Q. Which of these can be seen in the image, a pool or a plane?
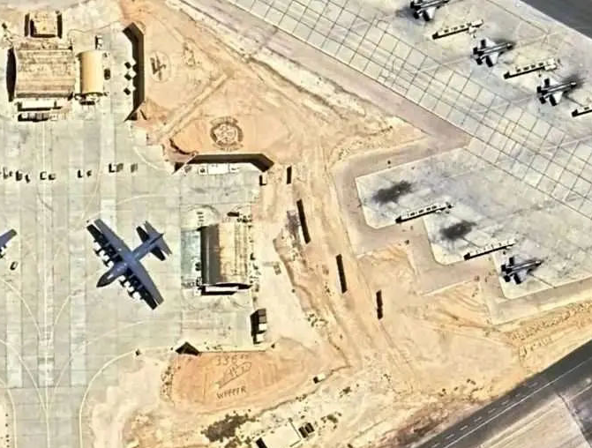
plane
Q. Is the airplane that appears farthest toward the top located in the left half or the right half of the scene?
right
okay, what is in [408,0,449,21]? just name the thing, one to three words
airplane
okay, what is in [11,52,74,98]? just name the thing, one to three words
hangar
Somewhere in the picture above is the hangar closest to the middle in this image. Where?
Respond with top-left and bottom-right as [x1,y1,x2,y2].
[200,222,246,288]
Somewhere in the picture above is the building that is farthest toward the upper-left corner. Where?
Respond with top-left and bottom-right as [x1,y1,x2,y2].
[34,11,58,37]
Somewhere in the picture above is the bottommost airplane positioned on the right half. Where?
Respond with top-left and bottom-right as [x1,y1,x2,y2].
[500,256,540,283]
